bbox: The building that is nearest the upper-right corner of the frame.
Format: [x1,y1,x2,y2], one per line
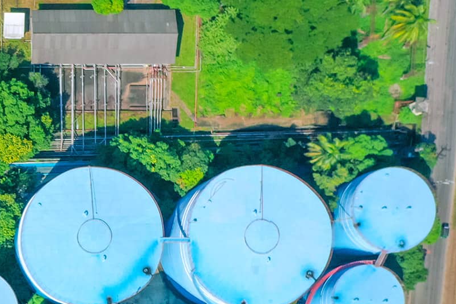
[404,99,430,118]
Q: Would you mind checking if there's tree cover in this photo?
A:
Yes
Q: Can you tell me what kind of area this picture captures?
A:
industrial area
